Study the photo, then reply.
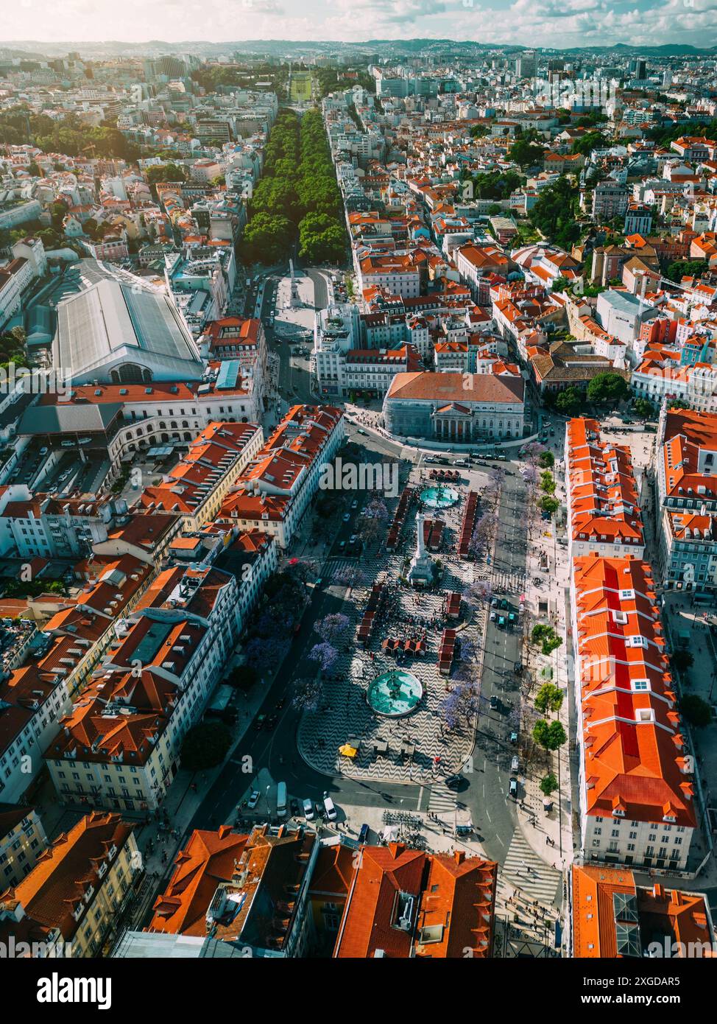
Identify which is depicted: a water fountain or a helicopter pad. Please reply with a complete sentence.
Visible in the photo is a water fountain.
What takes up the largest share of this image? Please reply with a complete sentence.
What you mostly see from above here is buildings.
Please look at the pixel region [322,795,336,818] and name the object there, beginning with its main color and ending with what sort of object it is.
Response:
white vehicle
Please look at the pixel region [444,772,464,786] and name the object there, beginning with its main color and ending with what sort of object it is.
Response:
black car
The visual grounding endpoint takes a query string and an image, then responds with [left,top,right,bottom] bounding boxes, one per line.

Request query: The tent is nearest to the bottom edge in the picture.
[377,821,401,847]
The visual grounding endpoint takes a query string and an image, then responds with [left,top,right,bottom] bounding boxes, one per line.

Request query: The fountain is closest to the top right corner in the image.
[419,481,458,508]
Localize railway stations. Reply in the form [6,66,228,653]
[60,268,201,387]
